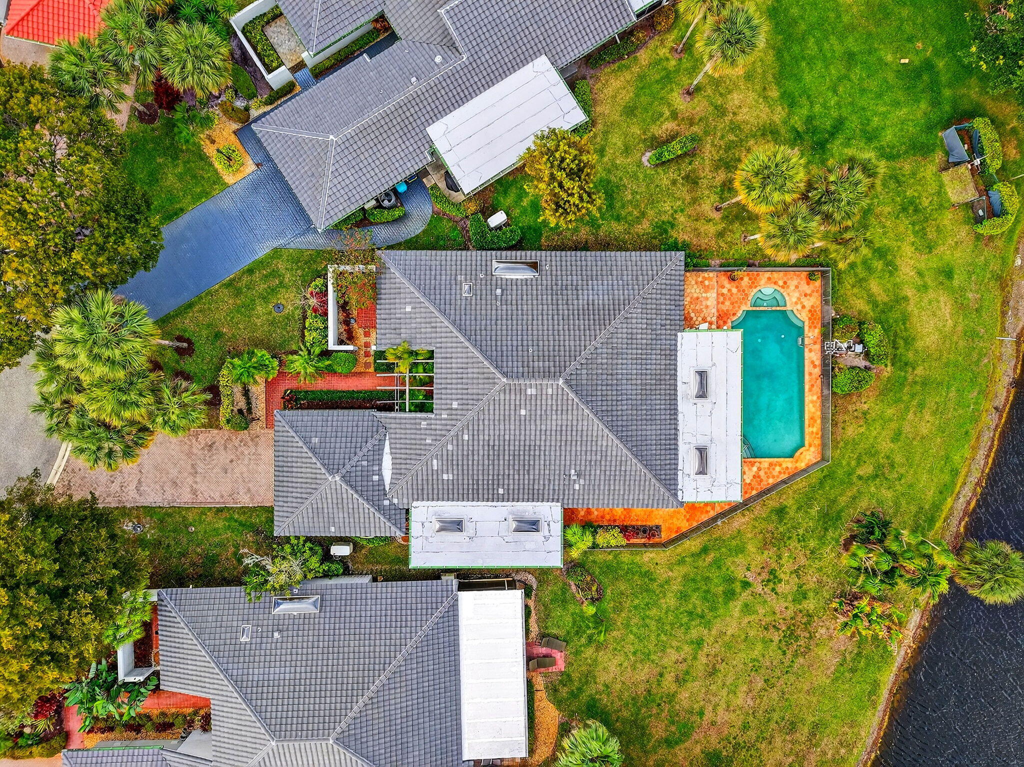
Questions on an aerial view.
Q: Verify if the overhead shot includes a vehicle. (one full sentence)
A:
No, there is no vehicle in the image.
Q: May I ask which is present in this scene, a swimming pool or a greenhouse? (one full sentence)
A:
This aerial view contains a swimming pool.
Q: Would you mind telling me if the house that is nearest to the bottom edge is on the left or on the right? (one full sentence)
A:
The house that is nearest to the bottom edge is on the left side of the image.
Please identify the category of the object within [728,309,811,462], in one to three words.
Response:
swimming pool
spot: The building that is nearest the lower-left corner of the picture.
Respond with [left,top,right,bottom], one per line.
[60,570,530,767]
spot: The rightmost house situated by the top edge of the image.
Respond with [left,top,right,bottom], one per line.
[250,0,673,233]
